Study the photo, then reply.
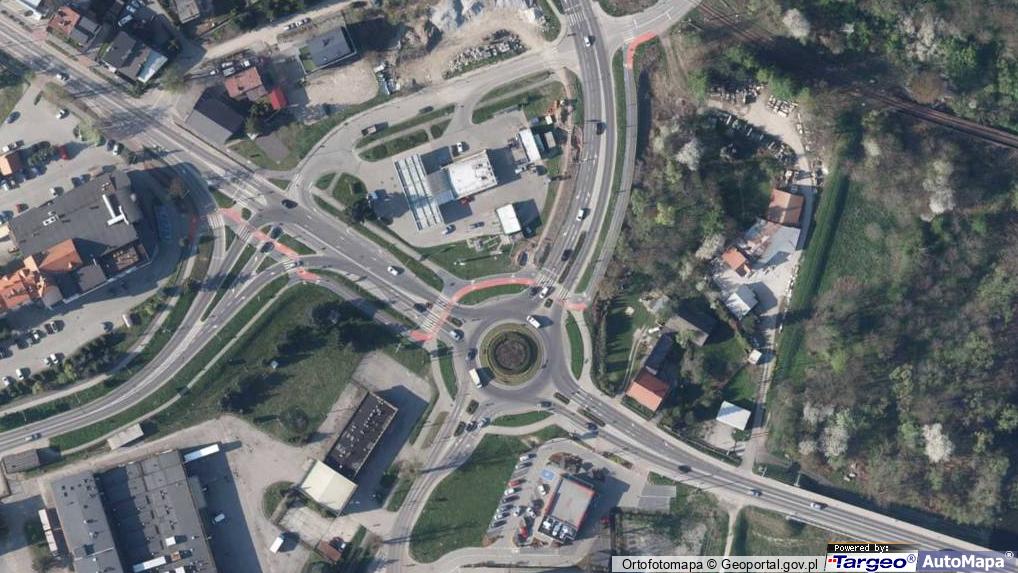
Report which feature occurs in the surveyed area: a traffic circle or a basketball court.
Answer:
traffic circle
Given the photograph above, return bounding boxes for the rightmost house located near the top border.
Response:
[299,27,357,76]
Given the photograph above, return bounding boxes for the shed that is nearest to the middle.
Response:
[496,204,521,234]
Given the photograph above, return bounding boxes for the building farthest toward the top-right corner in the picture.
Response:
[766,188,803,225]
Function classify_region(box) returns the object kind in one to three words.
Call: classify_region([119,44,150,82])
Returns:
house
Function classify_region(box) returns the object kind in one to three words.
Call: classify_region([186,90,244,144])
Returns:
barn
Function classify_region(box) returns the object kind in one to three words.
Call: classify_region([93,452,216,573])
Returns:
building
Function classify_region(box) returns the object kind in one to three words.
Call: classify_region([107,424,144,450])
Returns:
shed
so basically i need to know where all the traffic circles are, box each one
[457,298,567,409]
